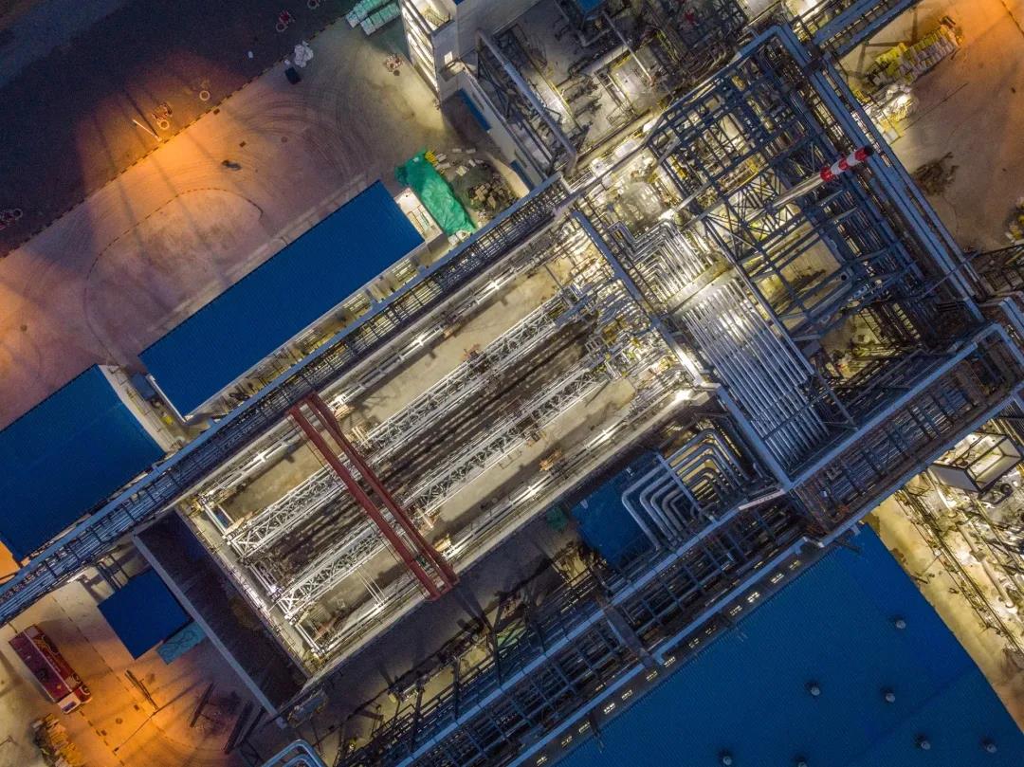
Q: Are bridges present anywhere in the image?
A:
Yes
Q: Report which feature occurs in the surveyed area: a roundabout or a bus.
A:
bus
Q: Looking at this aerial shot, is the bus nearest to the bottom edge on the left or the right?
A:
left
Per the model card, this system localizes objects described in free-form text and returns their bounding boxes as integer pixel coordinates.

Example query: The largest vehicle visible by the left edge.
[8,608,112,716]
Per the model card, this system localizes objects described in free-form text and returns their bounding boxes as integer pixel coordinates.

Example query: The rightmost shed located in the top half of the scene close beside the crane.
[139,181,426,418]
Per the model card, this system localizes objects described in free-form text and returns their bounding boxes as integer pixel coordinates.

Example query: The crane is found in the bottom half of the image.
[290,391,459,600]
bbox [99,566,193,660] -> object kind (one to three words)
shed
